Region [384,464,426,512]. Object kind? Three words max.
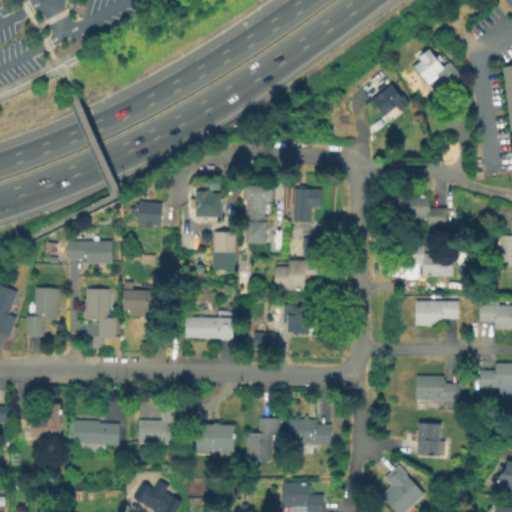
house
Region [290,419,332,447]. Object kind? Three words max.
house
